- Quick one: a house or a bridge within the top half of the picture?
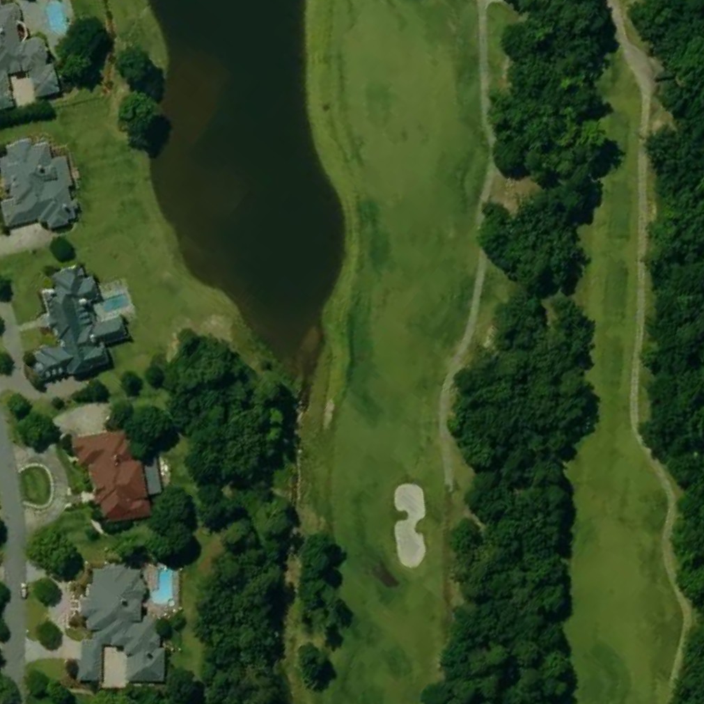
house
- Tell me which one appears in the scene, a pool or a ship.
pool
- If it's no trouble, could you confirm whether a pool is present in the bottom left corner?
Yes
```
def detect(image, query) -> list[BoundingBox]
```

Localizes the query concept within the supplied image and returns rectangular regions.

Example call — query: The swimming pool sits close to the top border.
[46,0,70,35]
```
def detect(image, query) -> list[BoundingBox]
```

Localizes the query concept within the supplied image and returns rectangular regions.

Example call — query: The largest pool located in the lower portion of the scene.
[151,568,175,607]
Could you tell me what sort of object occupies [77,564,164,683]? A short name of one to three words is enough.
house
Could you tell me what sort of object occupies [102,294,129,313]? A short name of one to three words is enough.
swimming pool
